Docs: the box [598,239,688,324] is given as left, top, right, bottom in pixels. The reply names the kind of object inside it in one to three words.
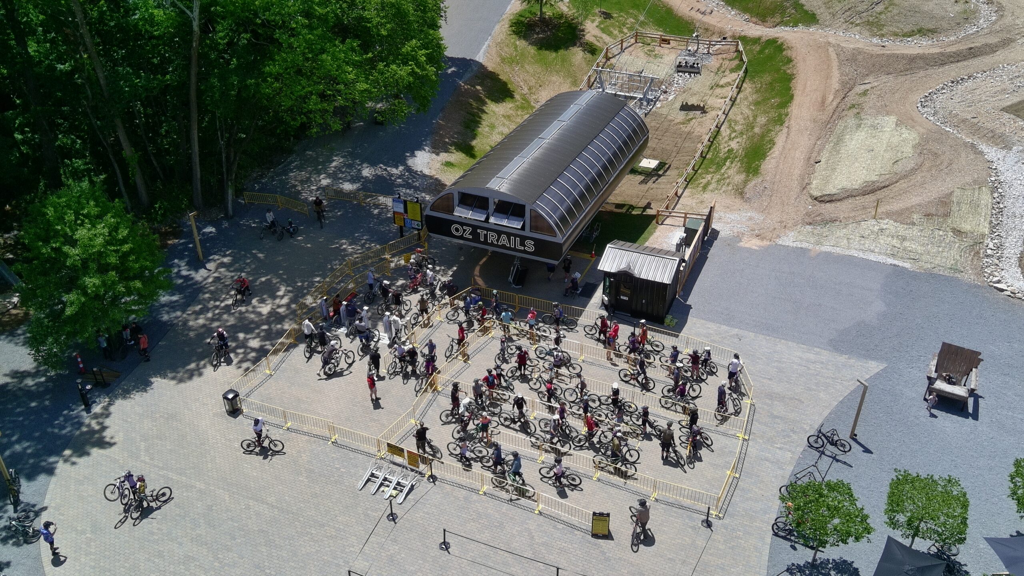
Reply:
shed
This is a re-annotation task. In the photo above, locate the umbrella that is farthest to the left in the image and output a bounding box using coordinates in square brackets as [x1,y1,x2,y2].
[867,536,946,576]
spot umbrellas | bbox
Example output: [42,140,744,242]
[982,537,1024,576]
[867,536,946,576]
